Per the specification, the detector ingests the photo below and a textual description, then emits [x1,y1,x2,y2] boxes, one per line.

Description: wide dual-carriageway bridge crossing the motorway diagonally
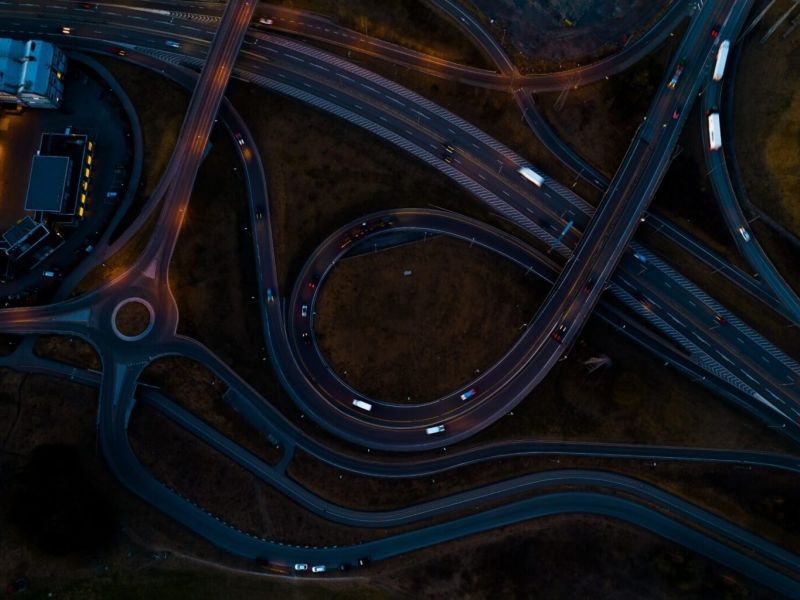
[529,75,676,377]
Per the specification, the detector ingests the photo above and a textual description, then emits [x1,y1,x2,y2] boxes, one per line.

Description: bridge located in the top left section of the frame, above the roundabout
[174,0,260,157]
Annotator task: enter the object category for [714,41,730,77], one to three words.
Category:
vehicle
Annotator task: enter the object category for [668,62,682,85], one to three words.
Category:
vehicle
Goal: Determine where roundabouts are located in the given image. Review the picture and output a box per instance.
[49,233,201,425]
